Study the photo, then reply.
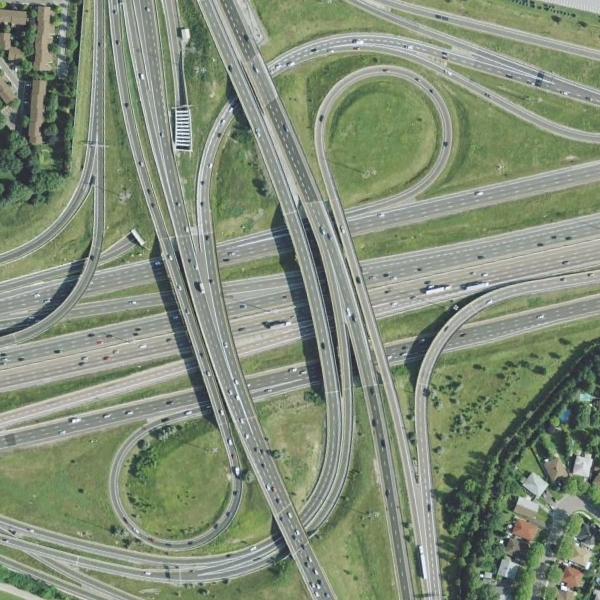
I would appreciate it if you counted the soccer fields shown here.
0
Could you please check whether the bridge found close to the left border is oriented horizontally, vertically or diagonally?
diagonally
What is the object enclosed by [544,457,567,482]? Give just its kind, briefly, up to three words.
house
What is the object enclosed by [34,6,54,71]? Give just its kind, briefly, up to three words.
house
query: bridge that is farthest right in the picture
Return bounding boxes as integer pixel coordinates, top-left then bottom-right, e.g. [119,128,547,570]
[417,301,476,384]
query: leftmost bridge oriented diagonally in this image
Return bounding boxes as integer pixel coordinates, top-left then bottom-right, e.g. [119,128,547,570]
[12,244,102,345]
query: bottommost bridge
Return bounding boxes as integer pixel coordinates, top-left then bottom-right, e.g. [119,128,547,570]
[271,500,312,557]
